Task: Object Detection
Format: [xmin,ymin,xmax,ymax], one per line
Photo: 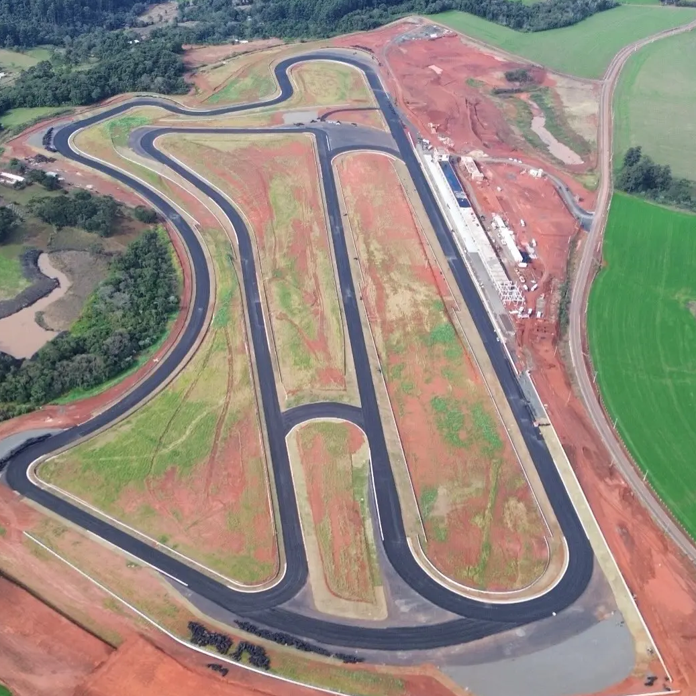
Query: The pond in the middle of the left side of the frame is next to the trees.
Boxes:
[0,255,73,361]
